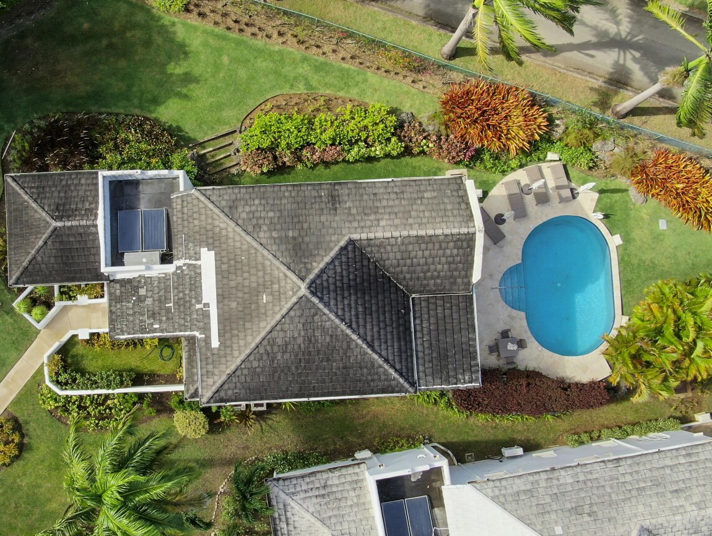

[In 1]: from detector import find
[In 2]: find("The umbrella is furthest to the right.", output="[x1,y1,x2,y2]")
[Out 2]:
[569,186,597,199]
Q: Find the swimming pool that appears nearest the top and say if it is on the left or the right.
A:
right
